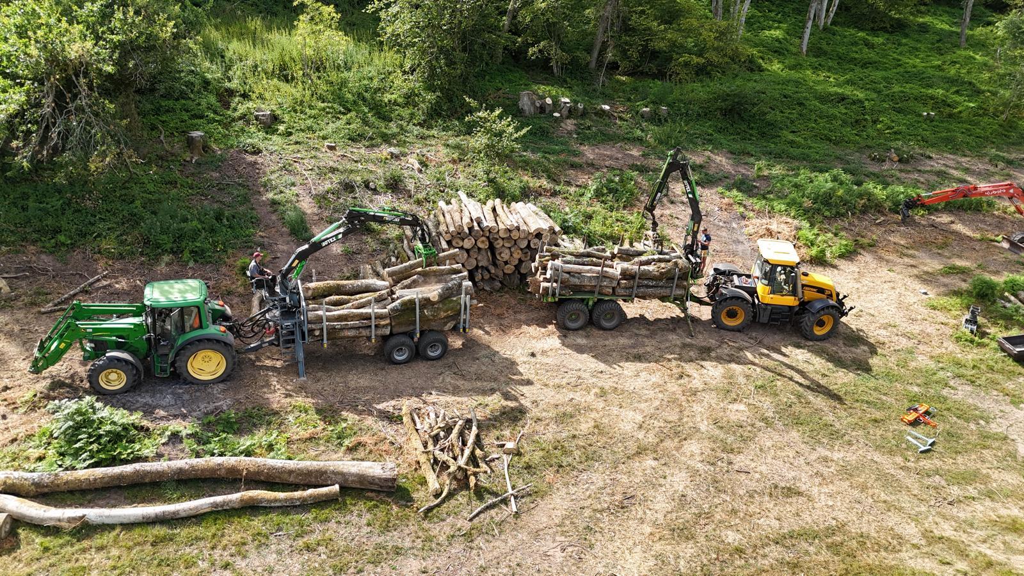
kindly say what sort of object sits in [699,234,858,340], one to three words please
work vehicle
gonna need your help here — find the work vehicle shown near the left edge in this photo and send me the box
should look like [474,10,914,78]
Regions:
[21,275,251,393]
